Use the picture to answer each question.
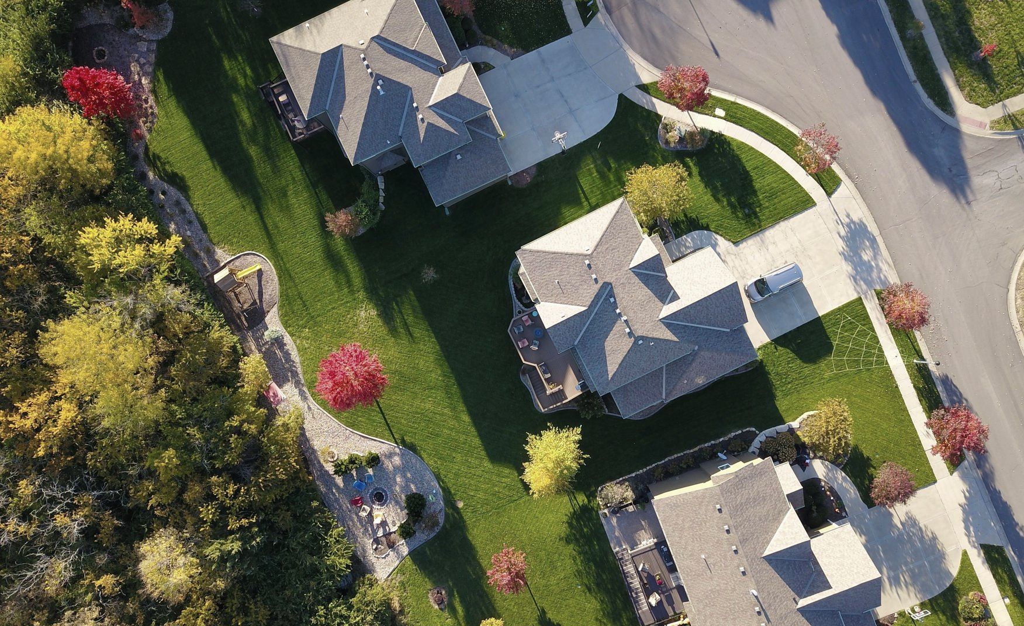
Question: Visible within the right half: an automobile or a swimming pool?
automobile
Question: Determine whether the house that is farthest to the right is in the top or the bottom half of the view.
bottom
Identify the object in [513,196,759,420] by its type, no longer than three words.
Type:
house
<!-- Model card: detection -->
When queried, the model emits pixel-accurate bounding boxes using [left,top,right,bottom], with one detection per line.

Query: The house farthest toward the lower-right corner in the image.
[646,449,882,626]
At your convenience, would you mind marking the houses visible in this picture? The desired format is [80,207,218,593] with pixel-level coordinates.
[513,196,759,420]
[268,0,511,212]
[646,449,882,626]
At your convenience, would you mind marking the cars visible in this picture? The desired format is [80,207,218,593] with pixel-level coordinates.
[744,263,807,302]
